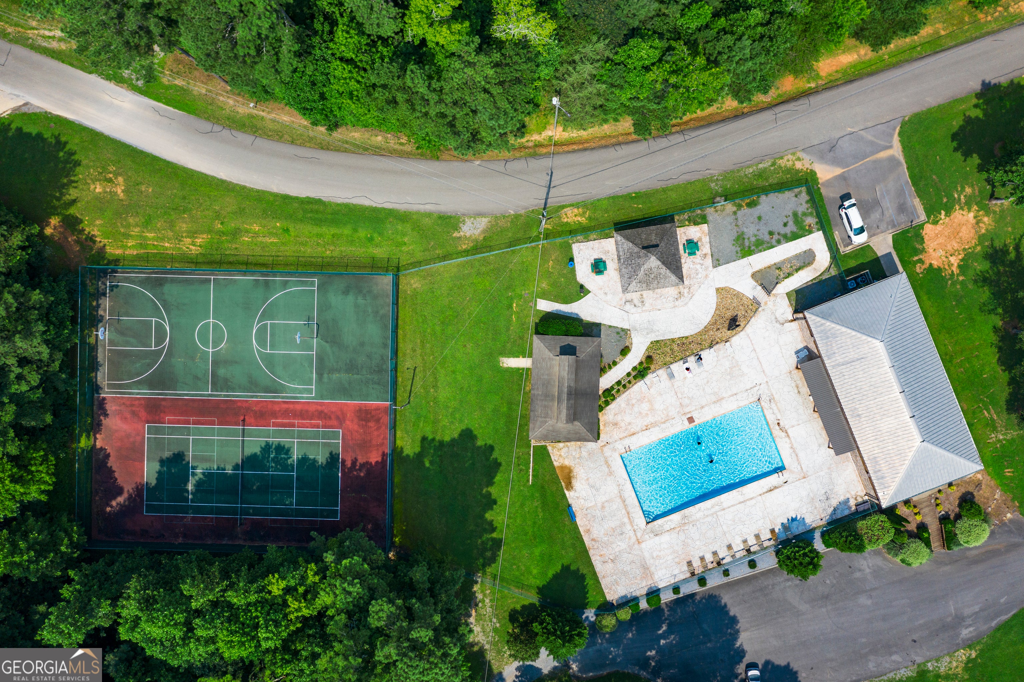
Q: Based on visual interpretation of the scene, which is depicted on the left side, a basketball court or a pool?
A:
basketball court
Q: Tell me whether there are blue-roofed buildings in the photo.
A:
No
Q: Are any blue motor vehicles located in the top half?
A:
No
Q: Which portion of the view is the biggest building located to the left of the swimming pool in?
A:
center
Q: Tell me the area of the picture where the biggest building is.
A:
right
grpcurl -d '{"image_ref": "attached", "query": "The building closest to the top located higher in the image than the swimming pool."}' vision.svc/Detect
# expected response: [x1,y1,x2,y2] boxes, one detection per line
[613,222,685,294]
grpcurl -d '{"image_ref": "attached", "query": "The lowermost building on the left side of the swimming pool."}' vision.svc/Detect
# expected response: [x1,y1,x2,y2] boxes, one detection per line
[529,334,602,443]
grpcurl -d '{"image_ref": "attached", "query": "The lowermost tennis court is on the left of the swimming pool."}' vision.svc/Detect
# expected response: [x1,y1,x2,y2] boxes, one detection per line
[91,395,393,550]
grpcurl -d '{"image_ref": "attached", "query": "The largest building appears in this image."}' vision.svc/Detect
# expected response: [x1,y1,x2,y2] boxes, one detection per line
[795,270,985,509]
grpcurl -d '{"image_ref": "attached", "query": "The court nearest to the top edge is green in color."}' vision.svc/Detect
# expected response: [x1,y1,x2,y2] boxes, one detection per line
[95,268,399,402]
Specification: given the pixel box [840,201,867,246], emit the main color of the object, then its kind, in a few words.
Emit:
white car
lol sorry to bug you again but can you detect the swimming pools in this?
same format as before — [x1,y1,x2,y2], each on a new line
[619,399,787,525]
